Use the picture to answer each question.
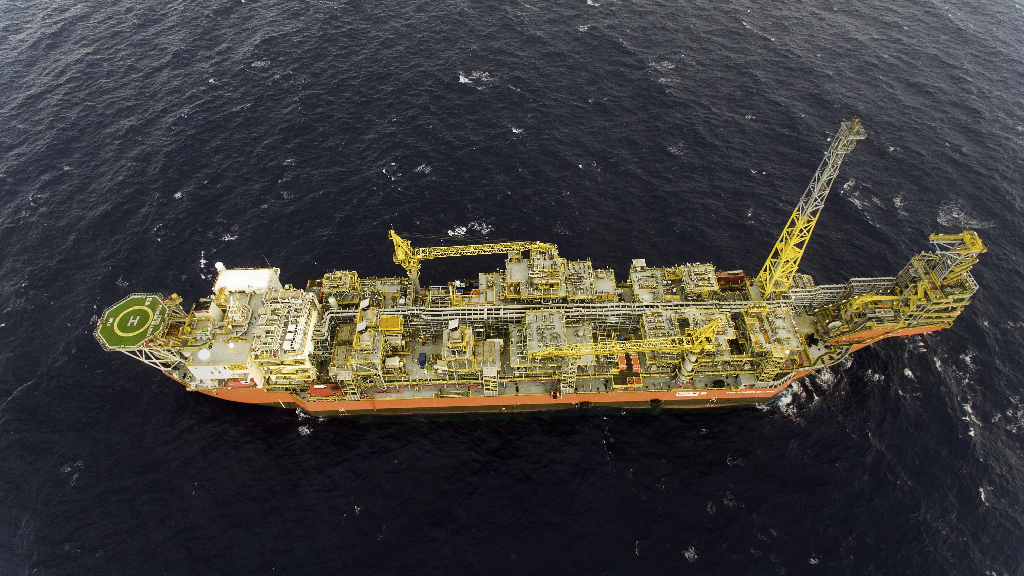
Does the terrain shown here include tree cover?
No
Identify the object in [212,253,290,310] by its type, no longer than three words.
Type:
house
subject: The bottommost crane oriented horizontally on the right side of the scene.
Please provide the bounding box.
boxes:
[532,314,727,391]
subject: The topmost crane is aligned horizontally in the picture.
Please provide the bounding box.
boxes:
[385,225,556,294]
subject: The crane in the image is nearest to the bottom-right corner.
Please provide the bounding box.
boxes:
[838,289,918,325]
